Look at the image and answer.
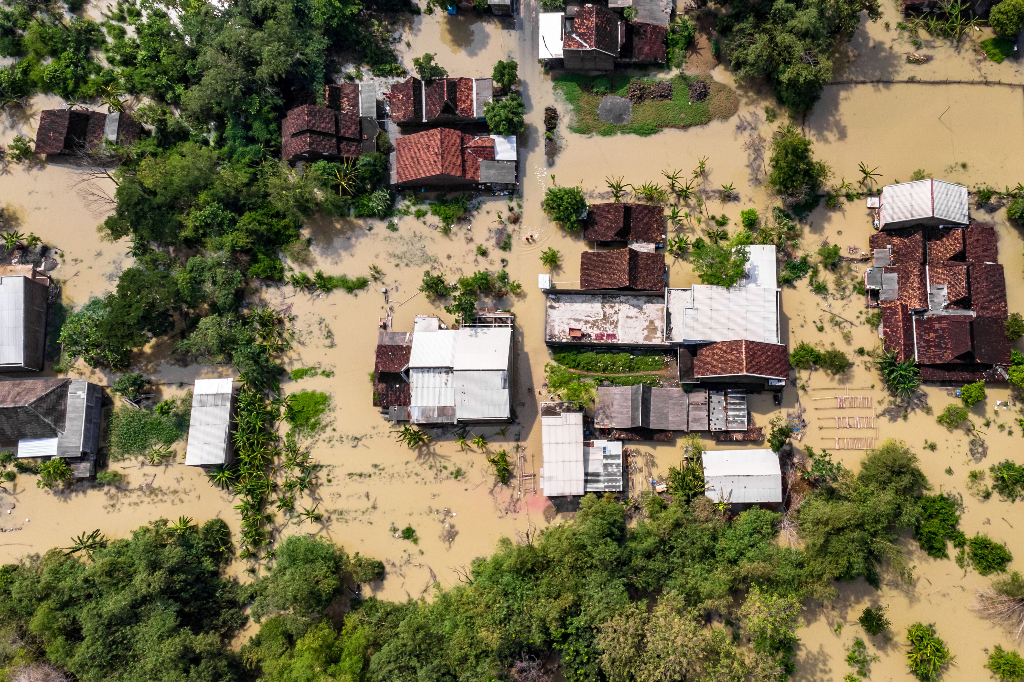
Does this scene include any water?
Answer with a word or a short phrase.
Yes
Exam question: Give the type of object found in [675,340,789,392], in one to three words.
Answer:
house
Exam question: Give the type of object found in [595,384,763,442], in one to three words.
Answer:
house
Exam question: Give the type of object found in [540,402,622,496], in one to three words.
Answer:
building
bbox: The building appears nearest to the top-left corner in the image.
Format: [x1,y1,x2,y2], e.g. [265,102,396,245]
[35,109,148,160]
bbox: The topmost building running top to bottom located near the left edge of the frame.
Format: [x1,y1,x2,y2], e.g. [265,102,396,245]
[0,263,52,373]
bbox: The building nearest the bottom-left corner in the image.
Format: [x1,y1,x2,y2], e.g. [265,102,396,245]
[0,378,109,477]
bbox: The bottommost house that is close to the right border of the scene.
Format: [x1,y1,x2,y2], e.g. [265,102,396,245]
[861,227,1011,383]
